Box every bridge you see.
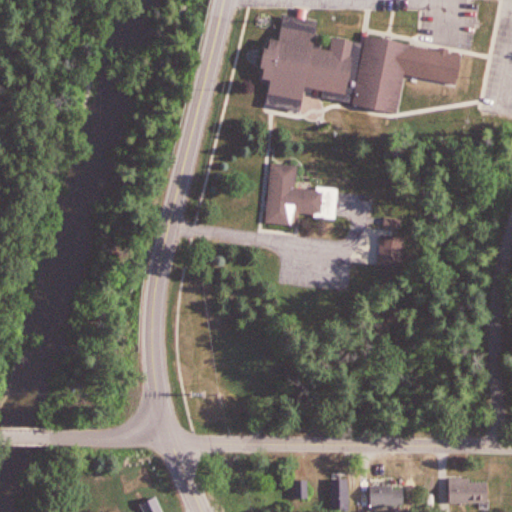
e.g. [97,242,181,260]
[0,427,50,448]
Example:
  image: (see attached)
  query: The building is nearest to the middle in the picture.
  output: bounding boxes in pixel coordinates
[264,166,339,226]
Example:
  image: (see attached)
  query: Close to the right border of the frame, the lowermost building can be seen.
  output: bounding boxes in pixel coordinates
[449,478,489,511]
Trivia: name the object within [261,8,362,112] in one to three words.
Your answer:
building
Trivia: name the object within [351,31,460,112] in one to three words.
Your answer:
building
